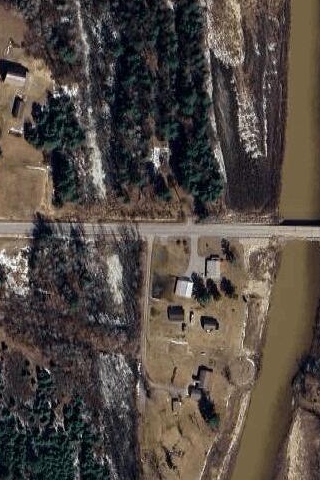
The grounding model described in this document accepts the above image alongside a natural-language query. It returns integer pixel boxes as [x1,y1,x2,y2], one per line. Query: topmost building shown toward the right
[206,260,225,277]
